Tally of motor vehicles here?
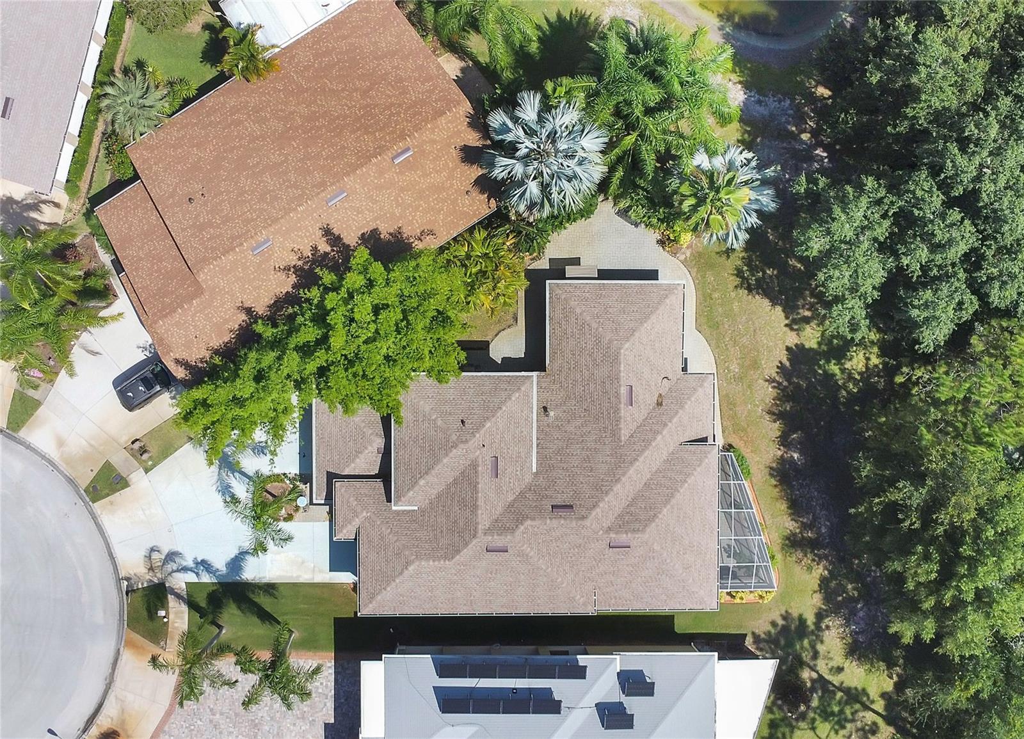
1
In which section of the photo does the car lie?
left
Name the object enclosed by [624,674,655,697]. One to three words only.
solar panel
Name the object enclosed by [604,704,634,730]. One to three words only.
solar panel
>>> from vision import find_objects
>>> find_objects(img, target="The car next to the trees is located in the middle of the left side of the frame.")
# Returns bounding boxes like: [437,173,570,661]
[117,358,182,412]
